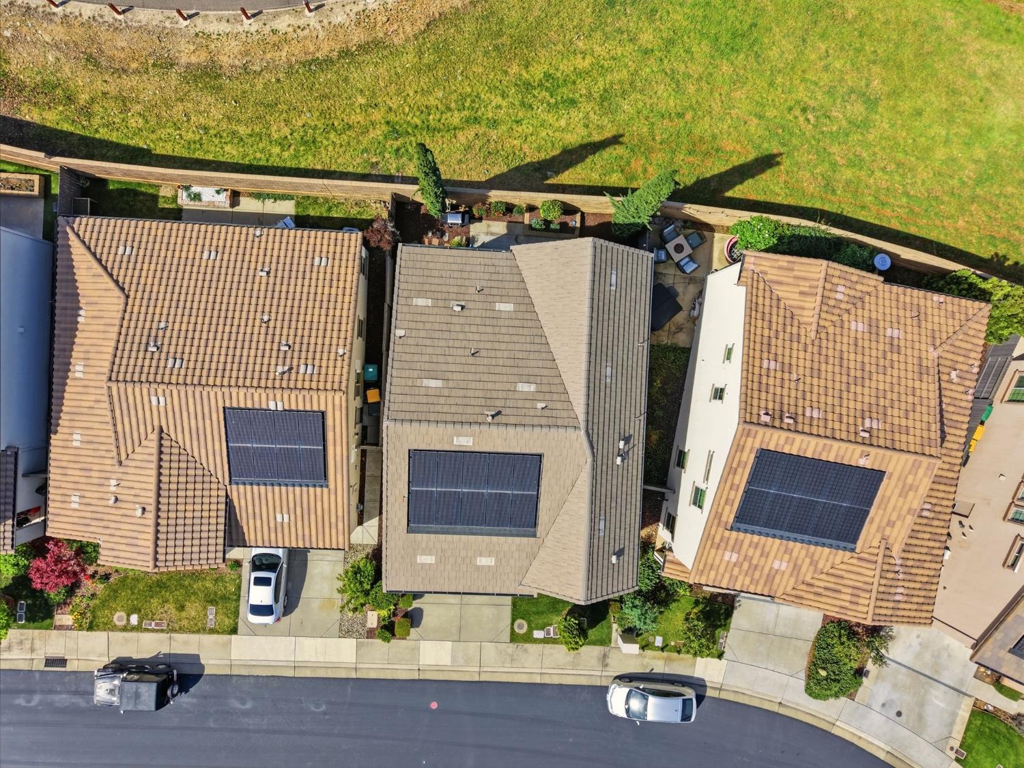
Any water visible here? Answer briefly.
No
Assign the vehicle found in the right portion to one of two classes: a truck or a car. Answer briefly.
car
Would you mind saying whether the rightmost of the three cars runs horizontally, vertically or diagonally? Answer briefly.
horizontally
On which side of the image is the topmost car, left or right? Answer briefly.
left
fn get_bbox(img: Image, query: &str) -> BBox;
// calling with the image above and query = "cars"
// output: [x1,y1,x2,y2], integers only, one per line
[604,673,695,721]
[245,552,289,623]
[97,661,177,710]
